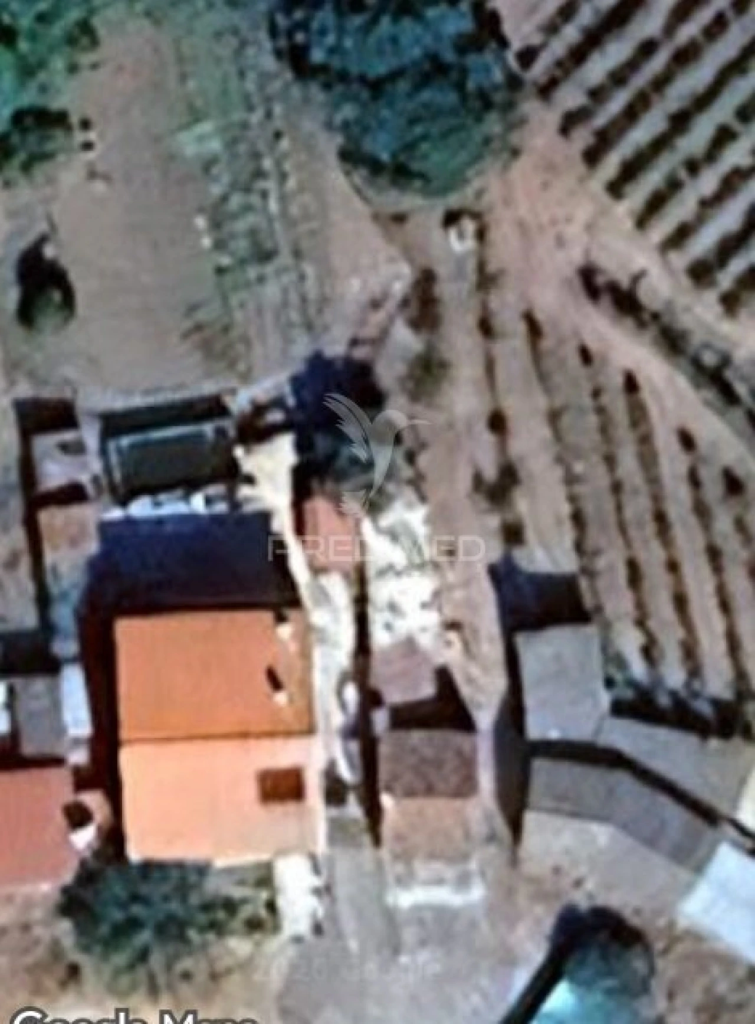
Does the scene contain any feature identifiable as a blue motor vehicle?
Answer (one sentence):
No, the picture doesn't show any blue motor vehicle.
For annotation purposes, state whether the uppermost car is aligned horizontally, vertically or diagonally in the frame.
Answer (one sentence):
Seen from above, the uppermost car lies vertically.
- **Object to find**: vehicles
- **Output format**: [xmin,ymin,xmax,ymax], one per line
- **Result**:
[333,676,362,732]
[333,732,362,784]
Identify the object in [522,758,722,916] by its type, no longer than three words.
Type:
barn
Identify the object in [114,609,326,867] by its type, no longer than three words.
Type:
house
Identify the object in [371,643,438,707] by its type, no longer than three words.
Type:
shed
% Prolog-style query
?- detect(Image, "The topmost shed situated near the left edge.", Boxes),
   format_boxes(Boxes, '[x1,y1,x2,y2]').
[32,431,99,491]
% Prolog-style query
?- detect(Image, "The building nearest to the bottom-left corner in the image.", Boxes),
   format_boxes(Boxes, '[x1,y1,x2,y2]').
[0,768,94,896]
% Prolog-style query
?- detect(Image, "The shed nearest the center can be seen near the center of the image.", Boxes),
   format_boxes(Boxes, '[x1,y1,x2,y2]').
[304,497,360,571]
